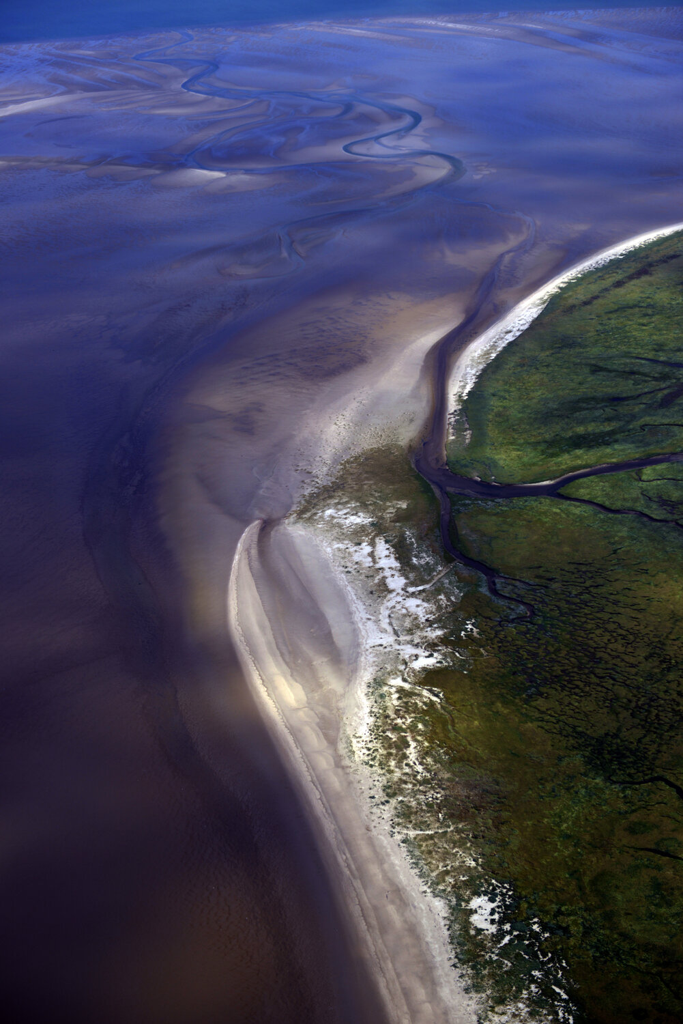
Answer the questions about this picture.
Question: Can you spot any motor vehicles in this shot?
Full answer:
No, there is no motor vehicle in the image.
